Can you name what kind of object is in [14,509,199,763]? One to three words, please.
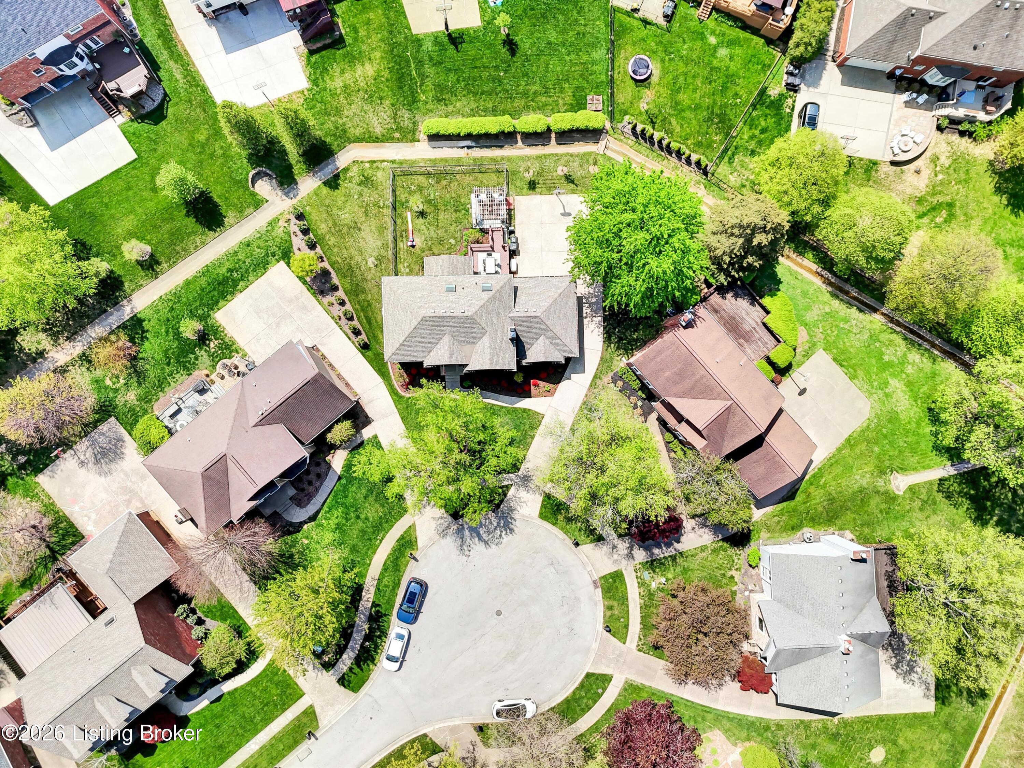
house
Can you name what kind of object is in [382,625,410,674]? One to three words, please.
car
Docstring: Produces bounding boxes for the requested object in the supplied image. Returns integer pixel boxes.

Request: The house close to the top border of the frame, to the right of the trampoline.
[833,0,1024,101]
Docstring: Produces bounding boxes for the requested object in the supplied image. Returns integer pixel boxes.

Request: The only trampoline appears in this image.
[631,49,658,80]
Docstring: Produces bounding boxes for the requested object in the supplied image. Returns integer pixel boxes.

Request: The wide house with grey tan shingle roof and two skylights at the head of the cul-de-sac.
[381,255,580,378]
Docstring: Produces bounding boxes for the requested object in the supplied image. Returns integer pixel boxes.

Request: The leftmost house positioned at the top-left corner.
[0,0,141,109]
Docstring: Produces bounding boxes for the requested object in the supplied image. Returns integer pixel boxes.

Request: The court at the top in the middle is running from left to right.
[403,0,481,34]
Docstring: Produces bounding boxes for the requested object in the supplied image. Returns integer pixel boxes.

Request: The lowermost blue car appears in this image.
[397,578,425,627]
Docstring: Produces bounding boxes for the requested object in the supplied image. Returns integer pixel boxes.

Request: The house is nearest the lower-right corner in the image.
[749,532,890,713]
